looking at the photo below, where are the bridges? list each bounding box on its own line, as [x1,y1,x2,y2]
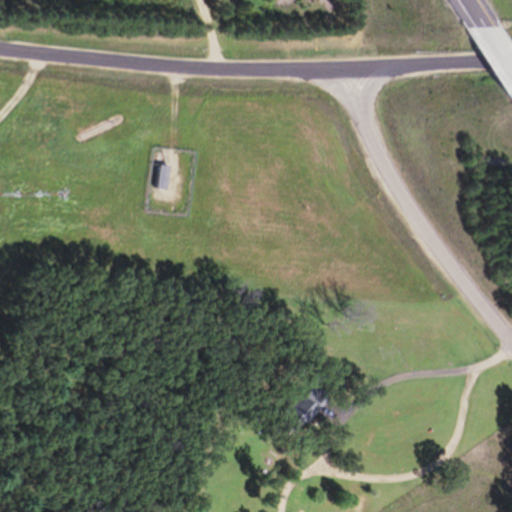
[463,20,512,101]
